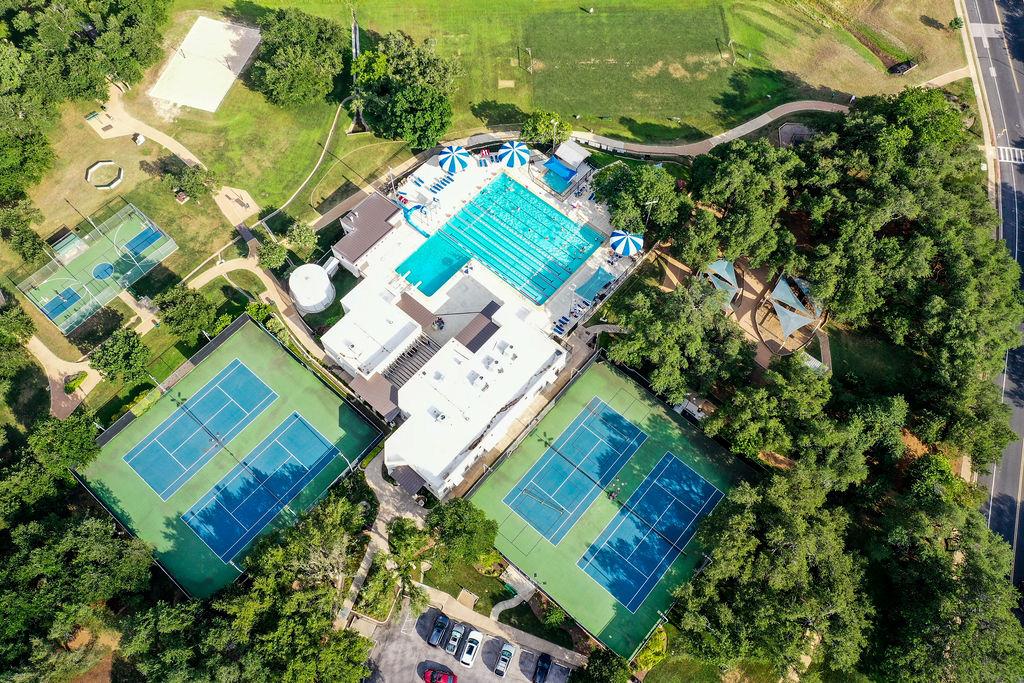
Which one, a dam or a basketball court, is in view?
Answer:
basketball court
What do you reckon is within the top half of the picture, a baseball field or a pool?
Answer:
pool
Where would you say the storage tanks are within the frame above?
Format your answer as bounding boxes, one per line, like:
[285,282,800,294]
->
[288,266,337,313]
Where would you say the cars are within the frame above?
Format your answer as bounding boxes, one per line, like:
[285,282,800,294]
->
[493,644,516,680]
[426,612,451,651]
[460,631,482,670]
[425,670,459,683]
[445,625,465,658]
[532,653,551,683]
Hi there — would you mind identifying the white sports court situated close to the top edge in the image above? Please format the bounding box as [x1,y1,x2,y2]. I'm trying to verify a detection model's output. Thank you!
[148,15,261,113]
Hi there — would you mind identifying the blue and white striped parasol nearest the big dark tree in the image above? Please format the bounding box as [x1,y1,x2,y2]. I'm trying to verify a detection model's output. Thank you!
[438,146,469,170]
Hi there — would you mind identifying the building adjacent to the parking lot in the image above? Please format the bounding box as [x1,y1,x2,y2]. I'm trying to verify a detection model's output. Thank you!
[320,277,566,504]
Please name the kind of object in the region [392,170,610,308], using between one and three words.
swimming pool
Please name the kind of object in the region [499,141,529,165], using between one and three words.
umbrella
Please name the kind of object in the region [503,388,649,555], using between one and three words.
tennis court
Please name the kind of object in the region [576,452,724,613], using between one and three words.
tennis court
